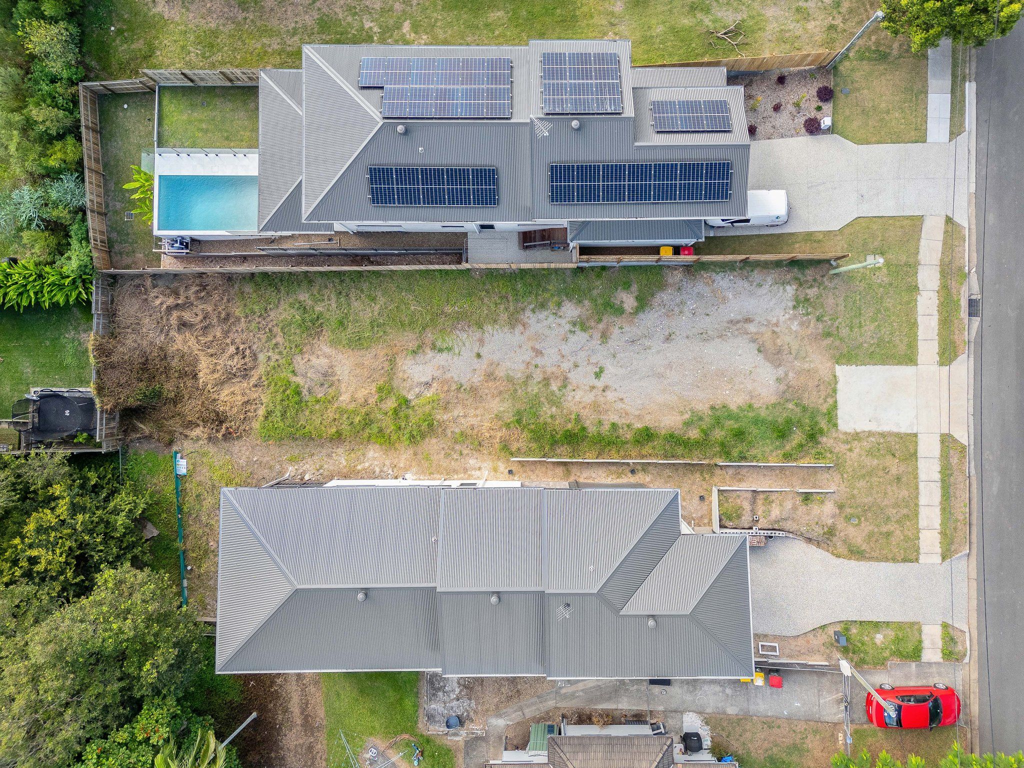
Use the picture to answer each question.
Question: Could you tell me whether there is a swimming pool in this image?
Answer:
Yes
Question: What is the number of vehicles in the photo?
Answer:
2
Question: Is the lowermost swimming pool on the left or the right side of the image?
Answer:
left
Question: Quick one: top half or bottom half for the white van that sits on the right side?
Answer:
top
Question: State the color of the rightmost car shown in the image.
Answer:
red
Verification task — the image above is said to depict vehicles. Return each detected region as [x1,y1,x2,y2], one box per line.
[864,683,958,734]
[735,184,791,228]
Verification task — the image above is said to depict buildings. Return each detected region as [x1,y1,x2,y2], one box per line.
[255,37,752,252]
[213,466,757,681]
[480,724,740,768]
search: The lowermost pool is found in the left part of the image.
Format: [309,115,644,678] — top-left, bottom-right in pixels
[154,154,259,237]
